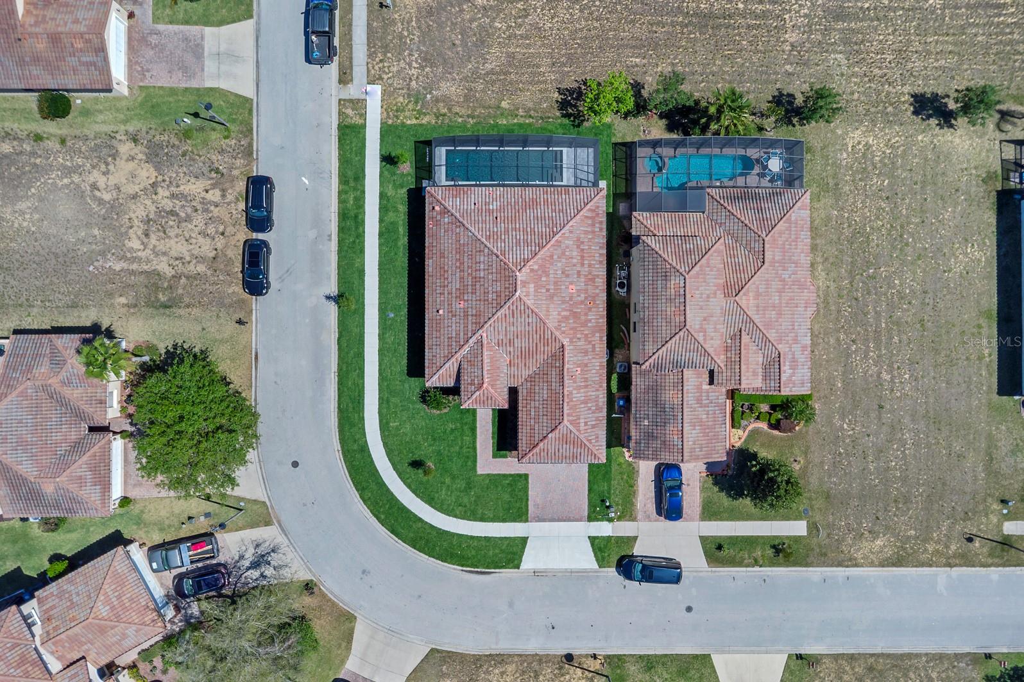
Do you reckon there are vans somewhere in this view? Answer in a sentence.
Yes, I can see a van in this picture.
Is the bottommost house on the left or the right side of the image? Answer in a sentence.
The bottommost house appears in the left half of the scene.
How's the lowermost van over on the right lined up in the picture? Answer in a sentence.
In this picture, the lowermost van over on the right lies from side to side.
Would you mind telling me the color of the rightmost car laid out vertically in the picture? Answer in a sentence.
The rightmost car laid out vertically looks blue in the image.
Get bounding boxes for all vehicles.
[150,533,224,570]
[244,173,276,233]
[173,563,232,598]
[658,464,686,522]
[621,555,684,587]
[306,0,336,69]
[242,238,273,297]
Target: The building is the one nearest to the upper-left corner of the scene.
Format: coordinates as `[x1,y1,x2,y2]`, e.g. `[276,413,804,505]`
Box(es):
[0,0,130,96]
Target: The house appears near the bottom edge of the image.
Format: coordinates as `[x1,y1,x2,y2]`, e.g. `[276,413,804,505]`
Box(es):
[0,542,177,682]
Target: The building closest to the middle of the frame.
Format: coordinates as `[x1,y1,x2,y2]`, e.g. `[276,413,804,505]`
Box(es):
[424,185,607,464]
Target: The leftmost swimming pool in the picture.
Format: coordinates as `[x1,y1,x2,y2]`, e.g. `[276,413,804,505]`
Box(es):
[443,147,565,181]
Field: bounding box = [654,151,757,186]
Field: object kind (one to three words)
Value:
swimming pool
